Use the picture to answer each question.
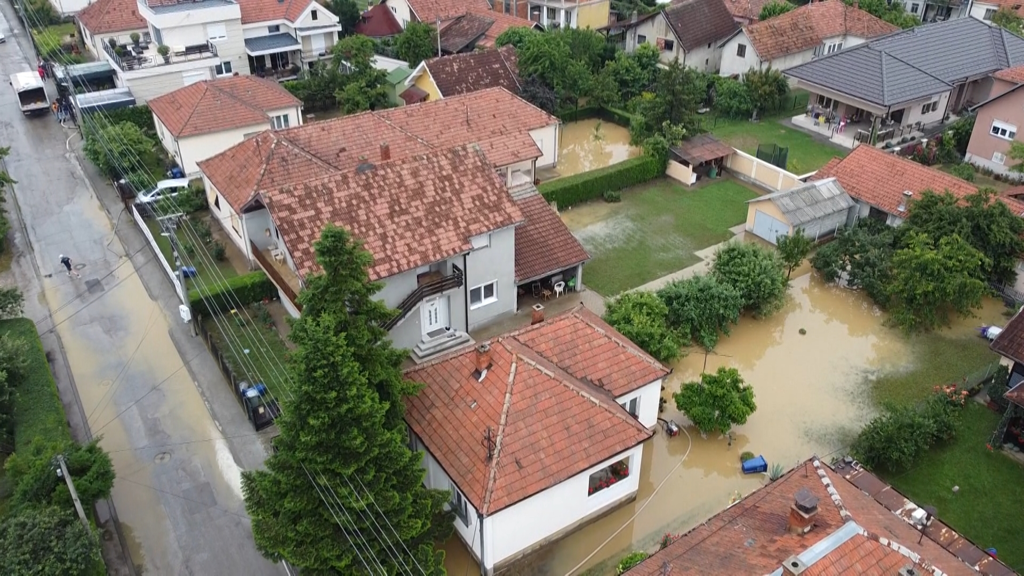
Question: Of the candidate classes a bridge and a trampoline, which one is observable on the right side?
trampoline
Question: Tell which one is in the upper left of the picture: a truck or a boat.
truck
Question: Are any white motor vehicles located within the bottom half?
No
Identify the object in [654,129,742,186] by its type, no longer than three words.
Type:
shed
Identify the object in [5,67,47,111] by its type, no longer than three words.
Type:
truck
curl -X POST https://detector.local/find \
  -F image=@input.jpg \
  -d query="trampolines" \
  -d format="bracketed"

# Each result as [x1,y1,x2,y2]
[761,141,793,171]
